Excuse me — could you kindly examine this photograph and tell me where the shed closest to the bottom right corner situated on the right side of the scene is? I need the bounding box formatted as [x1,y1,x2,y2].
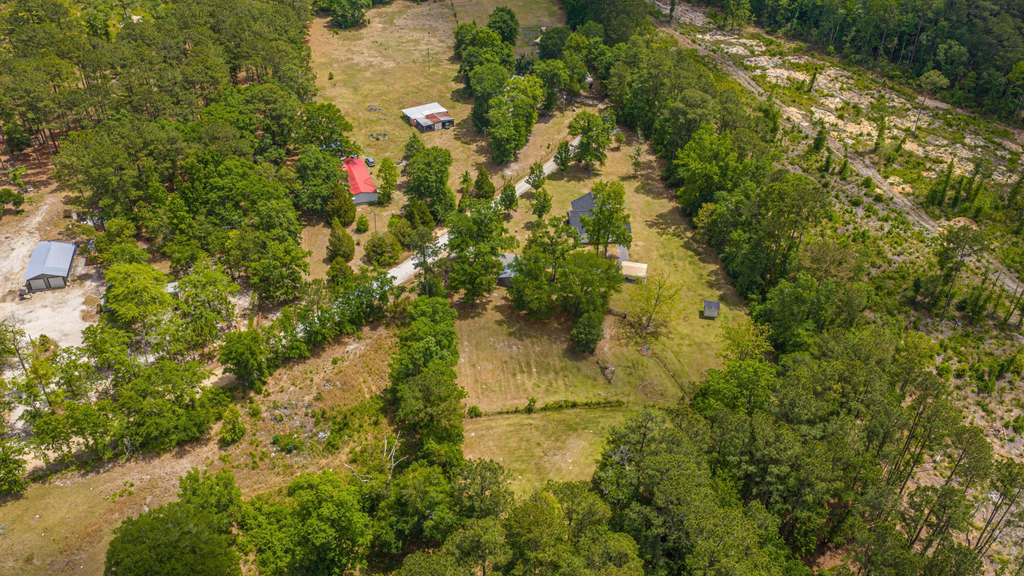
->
[702,299,721,318]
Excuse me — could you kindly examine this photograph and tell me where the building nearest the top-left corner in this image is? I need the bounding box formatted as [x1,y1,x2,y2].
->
[19,242,87,295]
